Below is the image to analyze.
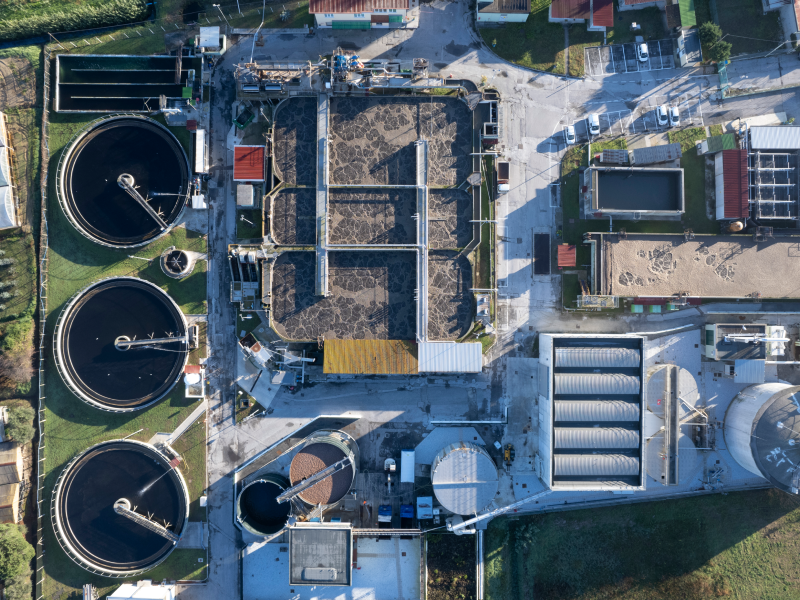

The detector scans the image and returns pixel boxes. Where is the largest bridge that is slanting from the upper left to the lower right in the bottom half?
[114,504,180,548]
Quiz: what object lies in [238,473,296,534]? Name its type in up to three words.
storage tank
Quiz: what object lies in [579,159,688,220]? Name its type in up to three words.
storage tank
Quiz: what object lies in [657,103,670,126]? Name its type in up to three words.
vehicle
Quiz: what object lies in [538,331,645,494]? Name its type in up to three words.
building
